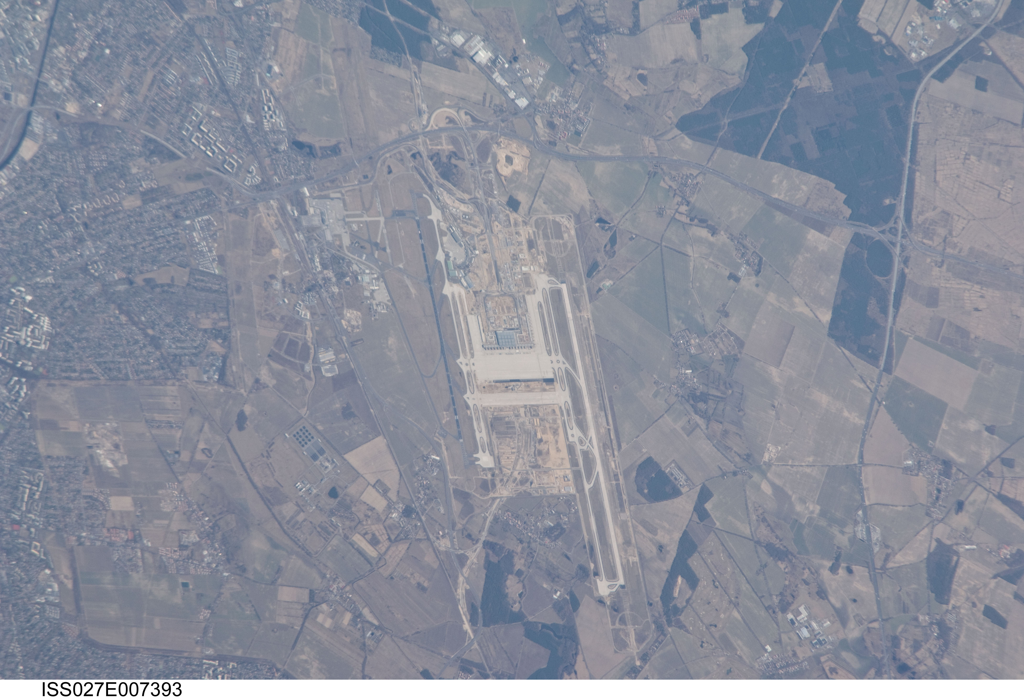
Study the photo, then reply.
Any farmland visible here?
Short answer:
Yes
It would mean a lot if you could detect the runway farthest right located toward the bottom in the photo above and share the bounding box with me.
[560,279,626,589]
